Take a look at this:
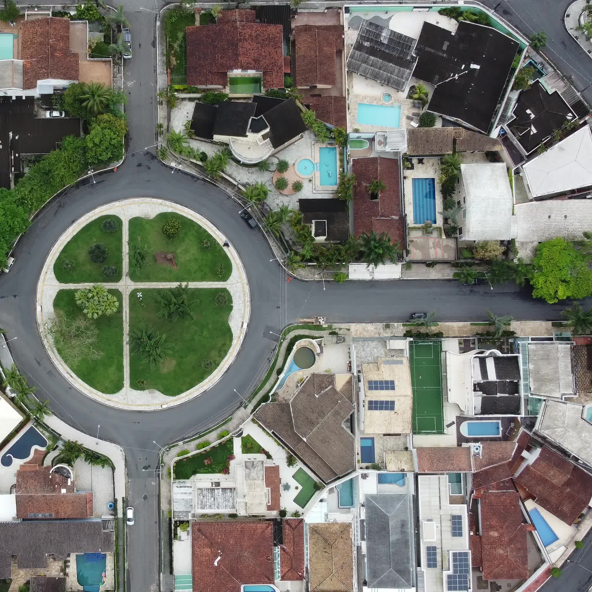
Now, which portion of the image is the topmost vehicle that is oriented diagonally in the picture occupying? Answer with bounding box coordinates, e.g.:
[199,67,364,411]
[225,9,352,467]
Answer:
[239,209,258,231]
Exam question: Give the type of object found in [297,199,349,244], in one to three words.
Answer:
house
